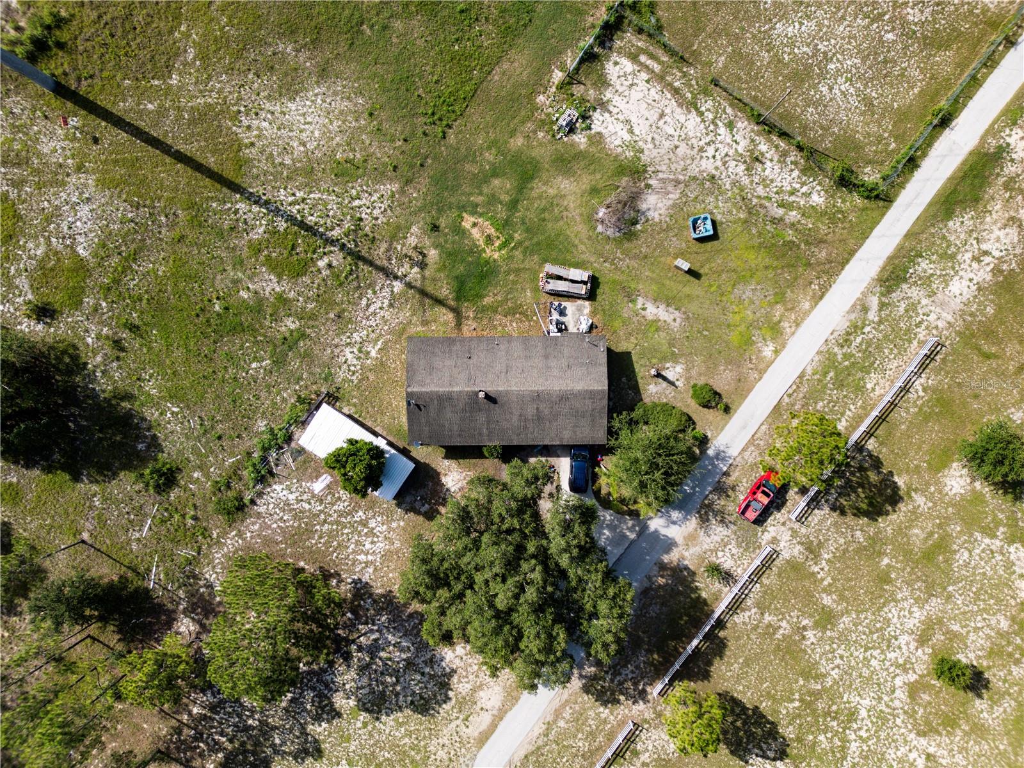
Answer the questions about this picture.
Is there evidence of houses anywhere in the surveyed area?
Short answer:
Yes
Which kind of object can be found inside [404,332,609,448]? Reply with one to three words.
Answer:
house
